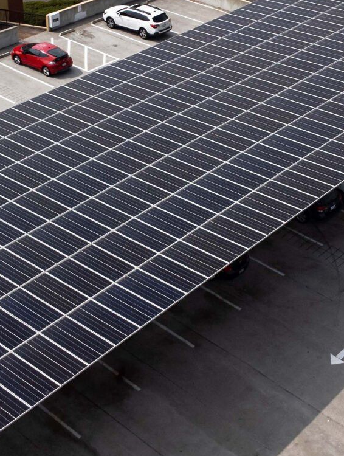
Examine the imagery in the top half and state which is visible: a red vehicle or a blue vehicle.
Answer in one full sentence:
Looking in the top half, you will find a red vehicle.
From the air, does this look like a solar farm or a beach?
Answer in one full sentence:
What you see here is a solar farm.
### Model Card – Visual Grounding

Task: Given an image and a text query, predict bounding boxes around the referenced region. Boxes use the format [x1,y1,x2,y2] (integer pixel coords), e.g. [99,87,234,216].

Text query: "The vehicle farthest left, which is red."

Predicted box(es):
[9,40,75,76]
